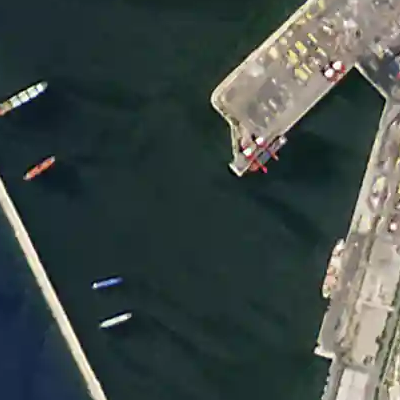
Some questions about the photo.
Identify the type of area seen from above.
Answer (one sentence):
This looks like a port.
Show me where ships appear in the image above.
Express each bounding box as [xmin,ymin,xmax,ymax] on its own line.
[22,157,55,180]
[92,278,123,289]
[0,83,48,113]
[324,239,346,299]
[99,312,133,327]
